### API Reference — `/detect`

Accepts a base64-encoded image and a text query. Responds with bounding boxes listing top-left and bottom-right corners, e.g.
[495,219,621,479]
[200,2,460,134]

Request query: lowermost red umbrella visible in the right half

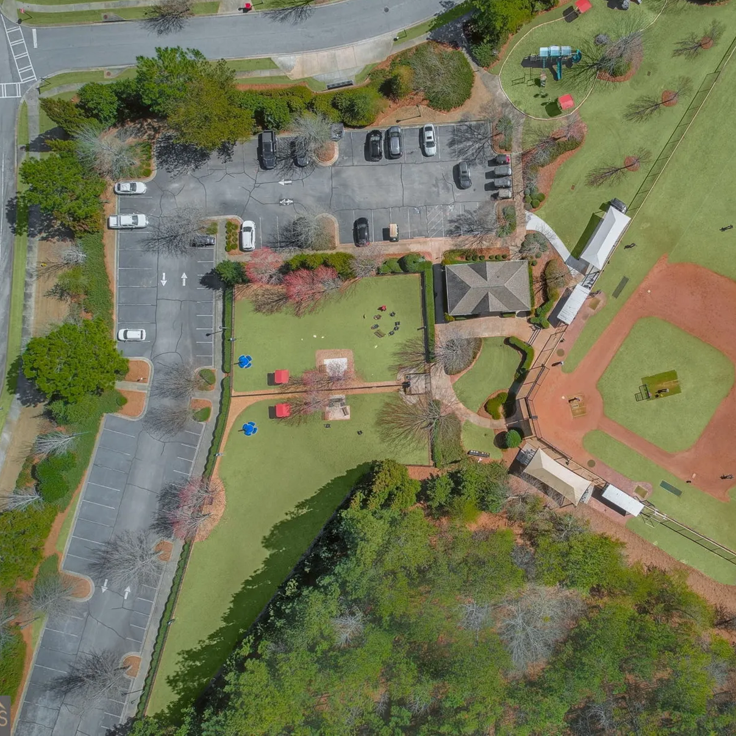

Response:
[557,92,576,112]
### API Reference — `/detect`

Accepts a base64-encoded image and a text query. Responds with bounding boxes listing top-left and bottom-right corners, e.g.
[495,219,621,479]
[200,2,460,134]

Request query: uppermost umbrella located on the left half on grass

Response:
[275,369,291,383]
